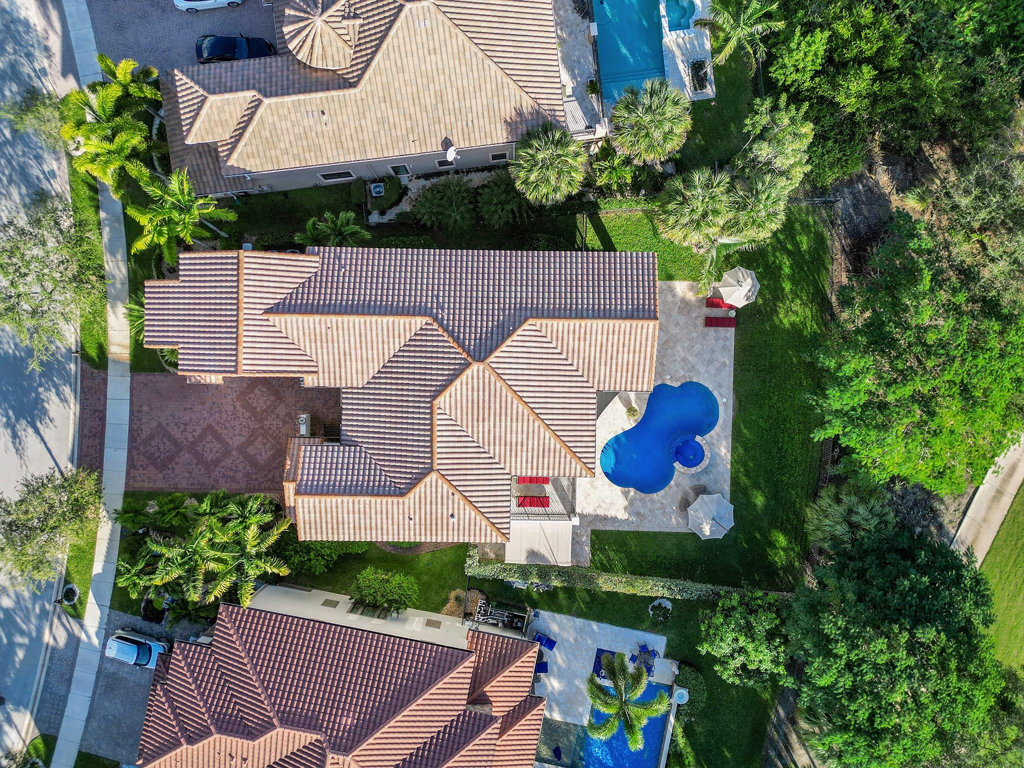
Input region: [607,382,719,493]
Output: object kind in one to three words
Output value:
swimming pool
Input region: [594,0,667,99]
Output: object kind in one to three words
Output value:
swimming pool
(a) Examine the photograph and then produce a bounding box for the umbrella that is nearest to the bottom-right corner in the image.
[687,492,734,539]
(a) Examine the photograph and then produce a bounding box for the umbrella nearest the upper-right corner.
[716,266,758,308]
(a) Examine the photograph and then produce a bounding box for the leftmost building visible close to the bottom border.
[135,581,548,768]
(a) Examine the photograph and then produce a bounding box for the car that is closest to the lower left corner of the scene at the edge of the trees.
[101,626,176,672]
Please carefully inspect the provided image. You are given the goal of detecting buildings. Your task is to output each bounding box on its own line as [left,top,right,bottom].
[142,245,660,544]
[135,581,548,768]
[158,0,567,205]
